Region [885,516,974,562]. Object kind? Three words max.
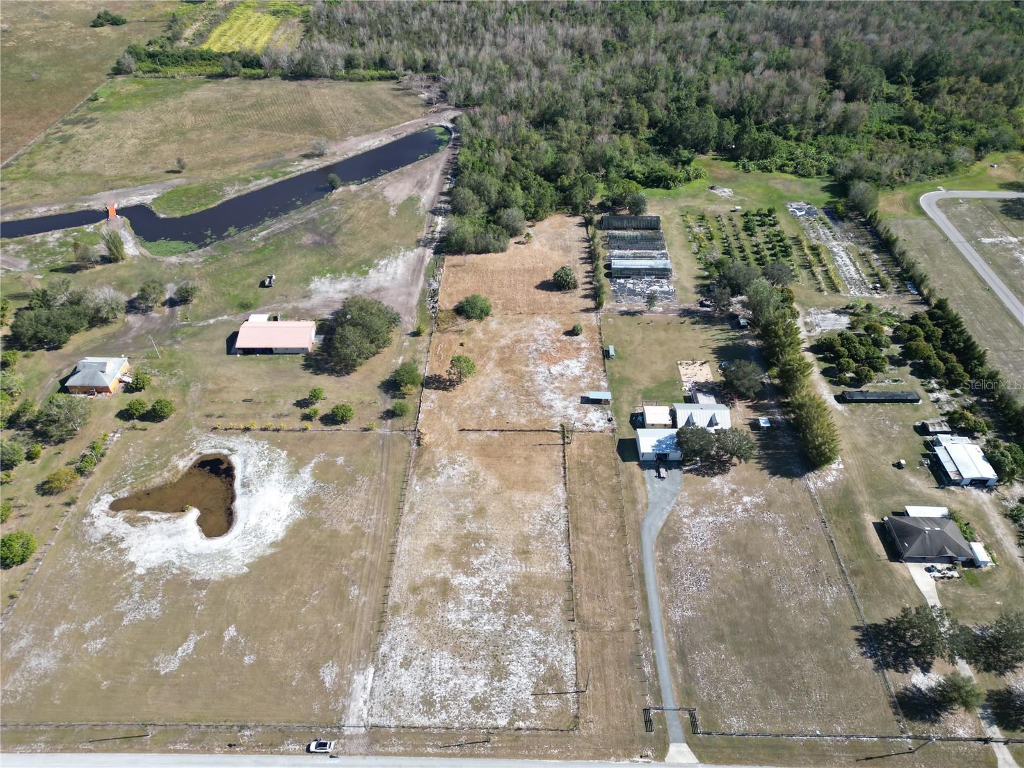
house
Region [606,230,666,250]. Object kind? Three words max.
greenhouse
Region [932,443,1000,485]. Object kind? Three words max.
building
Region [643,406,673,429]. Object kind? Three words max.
shed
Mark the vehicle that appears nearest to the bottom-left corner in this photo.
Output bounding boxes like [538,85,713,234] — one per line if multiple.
[309,740,335,755]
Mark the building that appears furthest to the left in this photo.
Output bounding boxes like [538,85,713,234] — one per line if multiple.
[64,357,129,396]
